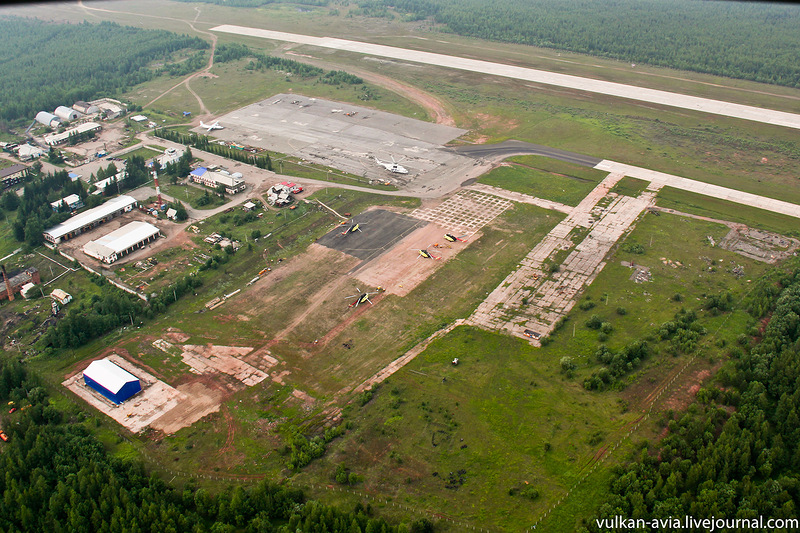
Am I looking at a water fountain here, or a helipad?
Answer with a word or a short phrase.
helipad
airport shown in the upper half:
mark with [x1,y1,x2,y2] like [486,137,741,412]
[180,24,800,392]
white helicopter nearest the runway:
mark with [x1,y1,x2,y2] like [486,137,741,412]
[370,155,410,175]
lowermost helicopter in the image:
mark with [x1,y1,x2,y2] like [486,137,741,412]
[344,288,378,308]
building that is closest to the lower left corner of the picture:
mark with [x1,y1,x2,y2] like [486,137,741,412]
[82,360,141,404]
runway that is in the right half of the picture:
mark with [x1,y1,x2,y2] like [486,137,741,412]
[210,24,800,128]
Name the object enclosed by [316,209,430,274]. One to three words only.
helipad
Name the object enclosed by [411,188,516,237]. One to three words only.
helipad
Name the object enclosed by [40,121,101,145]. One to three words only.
building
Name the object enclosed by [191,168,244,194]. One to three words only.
building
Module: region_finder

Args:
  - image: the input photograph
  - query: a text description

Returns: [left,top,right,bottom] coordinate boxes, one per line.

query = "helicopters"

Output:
[344,288,378,308]
[445,232,472,242]
[415,244,445,259]
[370,155,410,175]
[338,220,365,235]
